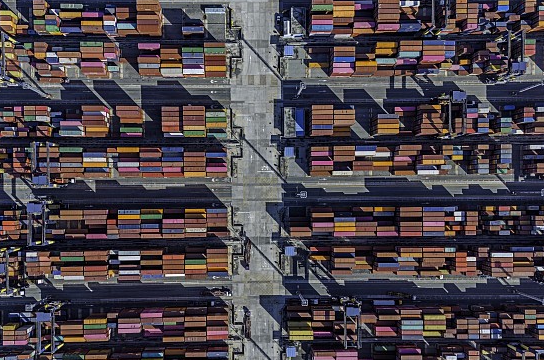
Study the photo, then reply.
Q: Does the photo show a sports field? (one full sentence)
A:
No, I find no sports field anywhere in the image.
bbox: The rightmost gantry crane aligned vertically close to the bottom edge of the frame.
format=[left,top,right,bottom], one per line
[334,297,360,353]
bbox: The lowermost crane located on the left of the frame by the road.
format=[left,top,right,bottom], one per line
[35,301,71,358]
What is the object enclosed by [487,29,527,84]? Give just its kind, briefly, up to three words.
container crane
